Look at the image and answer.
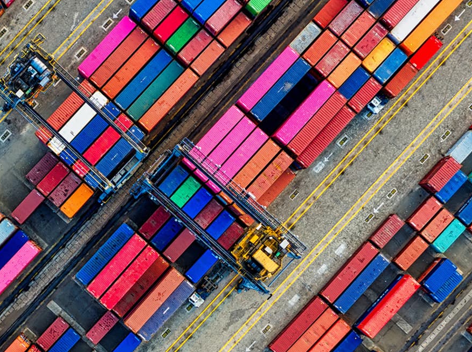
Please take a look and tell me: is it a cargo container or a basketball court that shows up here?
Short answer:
cargo container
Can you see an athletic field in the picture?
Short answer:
No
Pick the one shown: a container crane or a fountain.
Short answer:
container crane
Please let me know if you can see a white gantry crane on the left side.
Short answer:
No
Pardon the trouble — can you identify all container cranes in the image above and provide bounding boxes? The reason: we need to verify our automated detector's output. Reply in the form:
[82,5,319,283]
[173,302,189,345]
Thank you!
[130,136,307,299]
[0,31,160,207]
